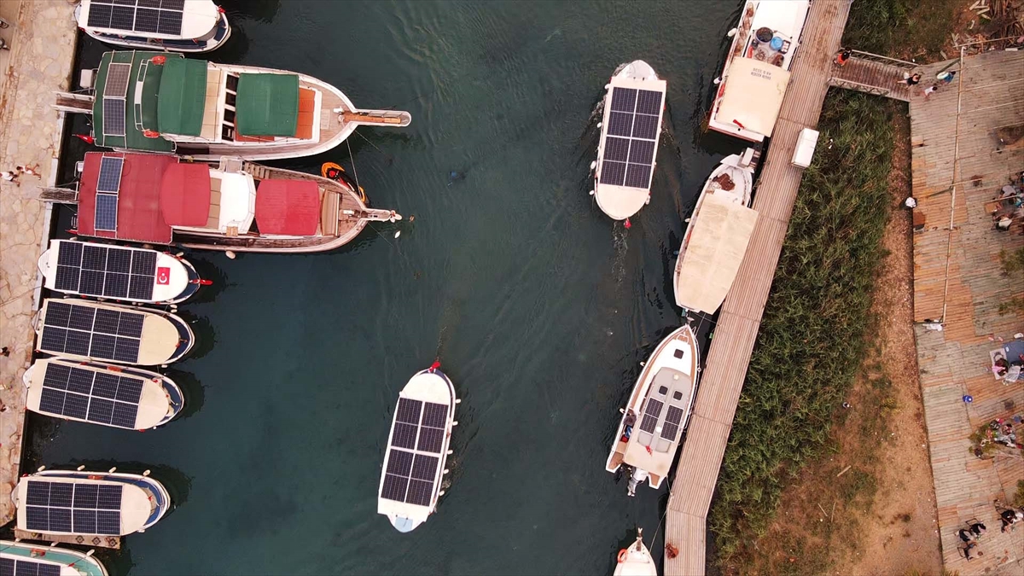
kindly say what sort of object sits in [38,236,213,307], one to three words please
boat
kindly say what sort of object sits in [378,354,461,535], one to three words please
boat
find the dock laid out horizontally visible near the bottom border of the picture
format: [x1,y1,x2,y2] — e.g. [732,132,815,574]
[14,528,121,549]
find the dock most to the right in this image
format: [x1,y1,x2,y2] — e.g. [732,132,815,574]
[664,0,852,576]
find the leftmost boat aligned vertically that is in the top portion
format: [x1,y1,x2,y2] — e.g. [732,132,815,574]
[584,60,665,237]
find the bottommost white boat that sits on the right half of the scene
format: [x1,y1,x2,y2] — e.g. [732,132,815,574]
[614,524,658,576]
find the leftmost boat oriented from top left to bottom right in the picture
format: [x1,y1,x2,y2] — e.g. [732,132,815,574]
[332,167,374,206]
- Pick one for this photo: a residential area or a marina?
marina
